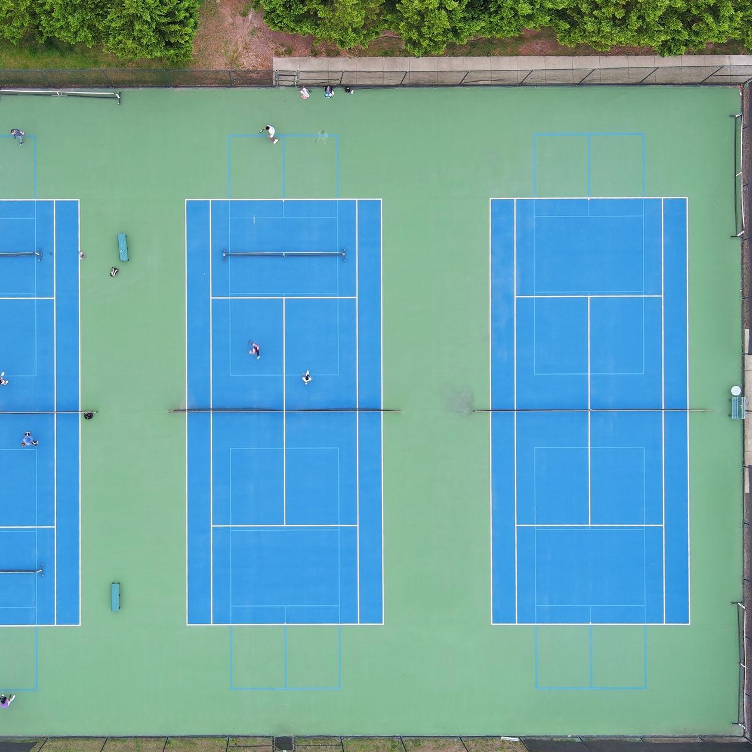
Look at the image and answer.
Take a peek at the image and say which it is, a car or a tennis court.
tennis court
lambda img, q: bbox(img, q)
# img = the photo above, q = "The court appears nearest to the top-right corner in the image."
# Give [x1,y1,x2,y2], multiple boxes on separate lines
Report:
[534,134,645,375]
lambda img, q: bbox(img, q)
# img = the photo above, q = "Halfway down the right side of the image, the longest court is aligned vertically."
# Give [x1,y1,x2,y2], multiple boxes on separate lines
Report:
[491,197,689,624]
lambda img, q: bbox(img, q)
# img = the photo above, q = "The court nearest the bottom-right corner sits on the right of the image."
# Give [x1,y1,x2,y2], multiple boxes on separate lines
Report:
[535,448,646,688]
